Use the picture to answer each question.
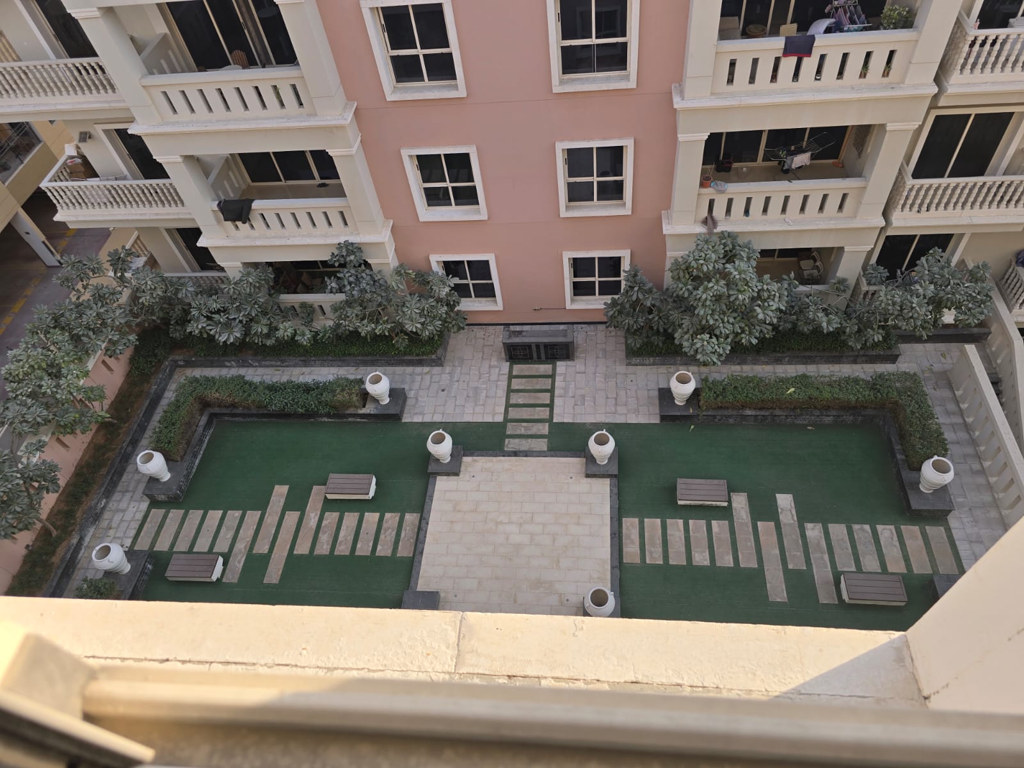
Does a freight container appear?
No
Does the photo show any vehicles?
No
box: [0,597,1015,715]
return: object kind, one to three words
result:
building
